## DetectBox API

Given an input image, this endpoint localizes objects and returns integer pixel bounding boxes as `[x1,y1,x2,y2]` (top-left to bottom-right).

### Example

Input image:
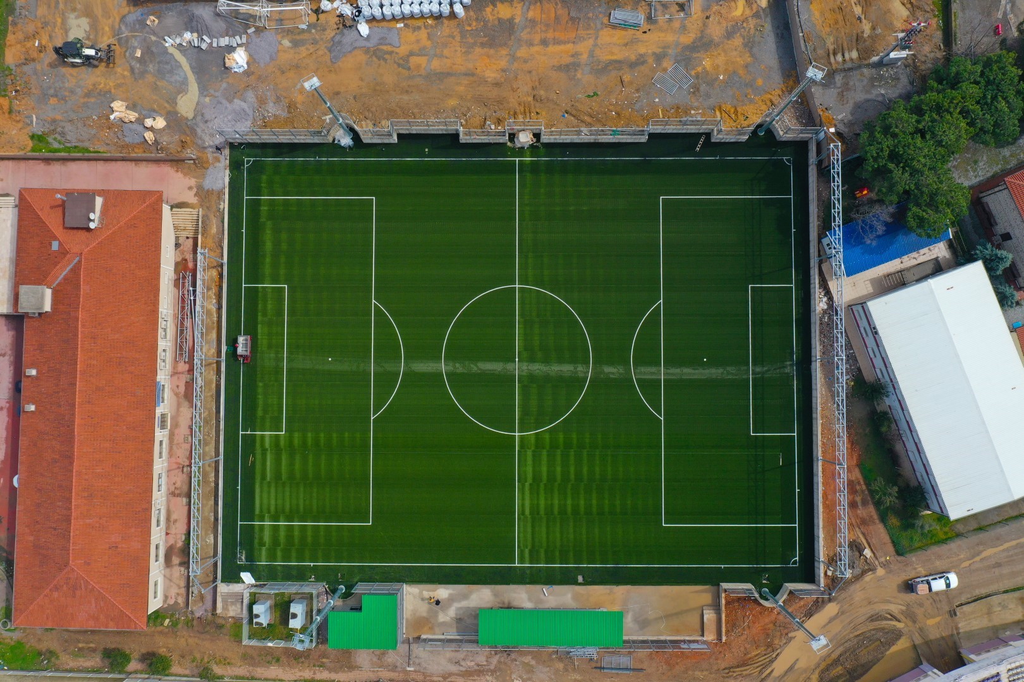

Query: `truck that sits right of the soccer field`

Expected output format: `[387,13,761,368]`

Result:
[910,574,961,599]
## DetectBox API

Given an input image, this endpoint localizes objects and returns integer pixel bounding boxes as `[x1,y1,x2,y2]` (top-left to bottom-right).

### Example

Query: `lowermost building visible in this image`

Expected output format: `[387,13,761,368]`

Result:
[328,590,400,650]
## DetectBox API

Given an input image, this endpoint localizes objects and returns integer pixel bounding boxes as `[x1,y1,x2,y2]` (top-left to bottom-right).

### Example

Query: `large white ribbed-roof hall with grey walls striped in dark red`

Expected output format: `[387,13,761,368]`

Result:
[851,258,1024,521]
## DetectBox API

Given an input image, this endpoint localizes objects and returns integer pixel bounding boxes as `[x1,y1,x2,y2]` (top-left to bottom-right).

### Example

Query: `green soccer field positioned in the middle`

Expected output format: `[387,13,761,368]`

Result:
[221,124,815,593]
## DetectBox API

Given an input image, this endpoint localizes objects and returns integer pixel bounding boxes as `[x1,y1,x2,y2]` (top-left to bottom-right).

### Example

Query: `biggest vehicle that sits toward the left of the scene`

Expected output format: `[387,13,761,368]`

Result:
[51,37,114,65]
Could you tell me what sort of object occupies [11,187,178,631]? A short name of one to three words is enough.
building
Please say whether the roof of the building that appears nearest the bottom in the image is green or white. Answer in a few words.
green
